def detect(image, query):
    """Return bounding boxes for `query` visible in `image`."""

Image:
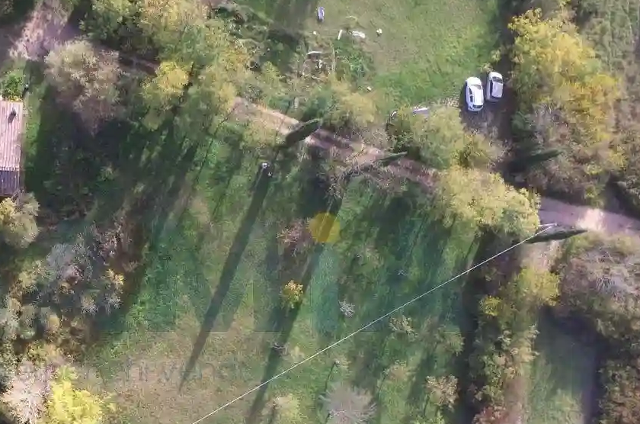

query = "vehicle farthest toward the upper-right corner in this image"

[485,73,503,102]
